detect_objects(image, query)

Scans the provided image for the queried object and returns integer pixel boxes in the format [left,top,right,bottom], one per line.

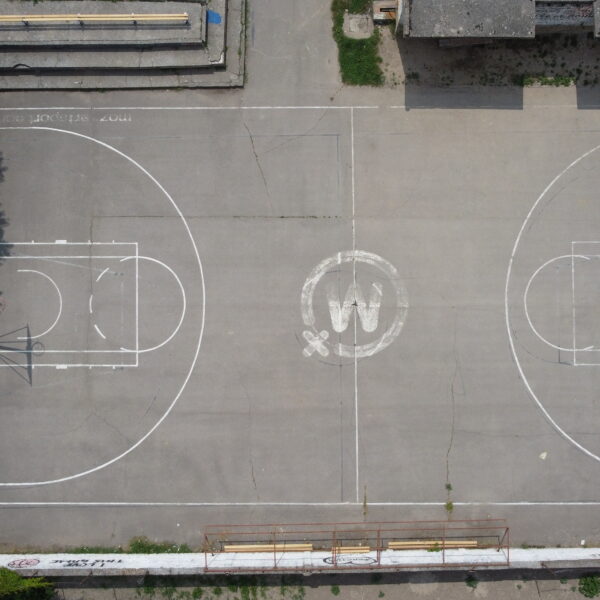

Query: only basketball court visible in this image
[0,107,600,514]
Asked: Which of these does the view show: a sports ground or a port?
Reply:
sports ground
